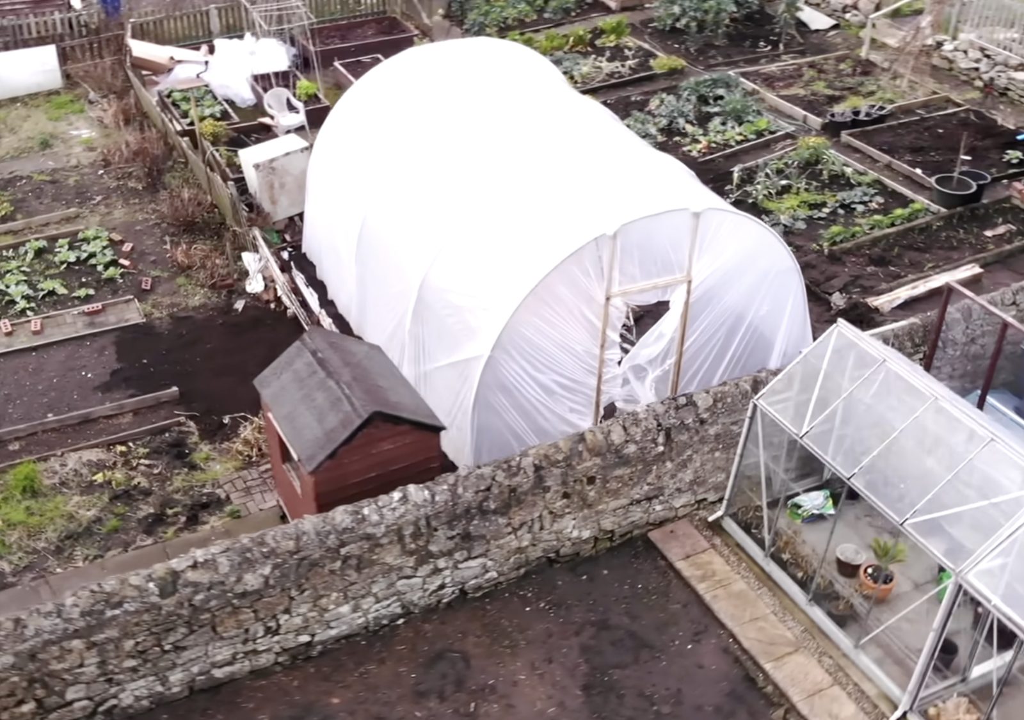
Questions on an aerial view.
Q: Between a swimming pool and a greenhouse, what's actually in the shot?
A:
greenhouse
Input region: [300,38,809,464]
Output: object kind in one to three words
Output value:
greenhouse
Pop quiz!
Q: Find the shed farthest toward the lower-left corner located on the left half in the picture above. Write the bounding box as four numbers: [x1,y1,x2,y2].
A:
[250,323,450,527]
